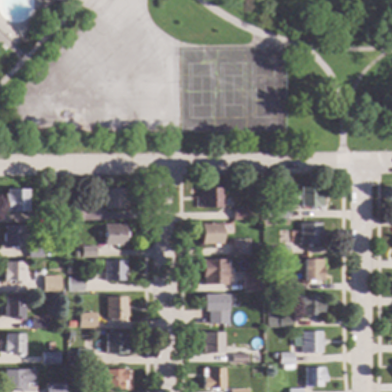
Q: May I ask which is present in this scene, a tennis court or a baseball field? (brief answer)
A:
tennis court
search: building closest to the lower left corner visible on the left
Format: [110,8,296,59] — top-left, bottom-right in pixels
[6,370,36,392]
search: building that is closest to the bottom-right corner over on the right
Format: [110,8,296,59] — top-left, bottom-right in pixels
[306,366,332,390]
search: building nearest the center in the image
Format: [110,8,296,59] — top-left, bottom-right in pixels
[196,187,226,210]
